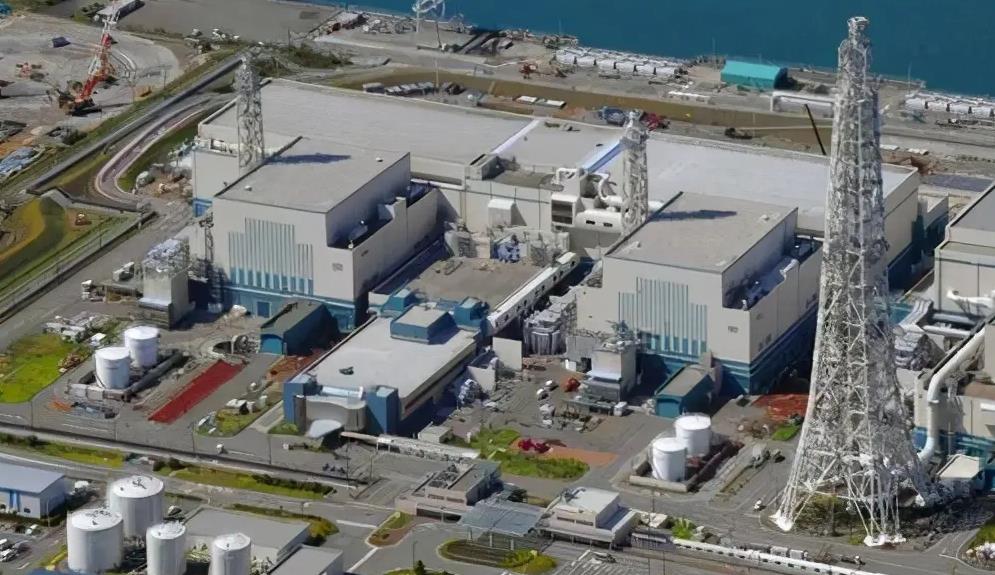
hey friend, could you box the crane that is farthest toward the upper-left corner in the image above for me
[51,0,126,109]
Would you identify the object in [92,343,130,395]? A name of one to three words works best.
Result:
storage tank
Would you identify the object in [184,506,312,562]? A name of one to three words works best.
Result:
building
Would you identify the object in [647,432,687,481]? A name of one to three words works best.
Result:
storage tank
